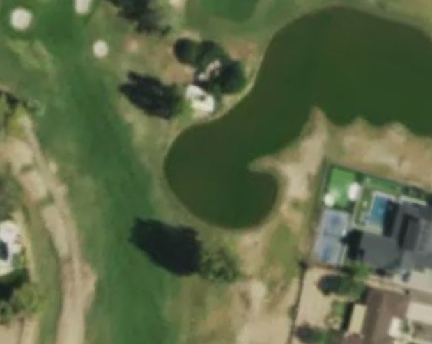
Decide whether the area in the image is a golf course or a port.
golf course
